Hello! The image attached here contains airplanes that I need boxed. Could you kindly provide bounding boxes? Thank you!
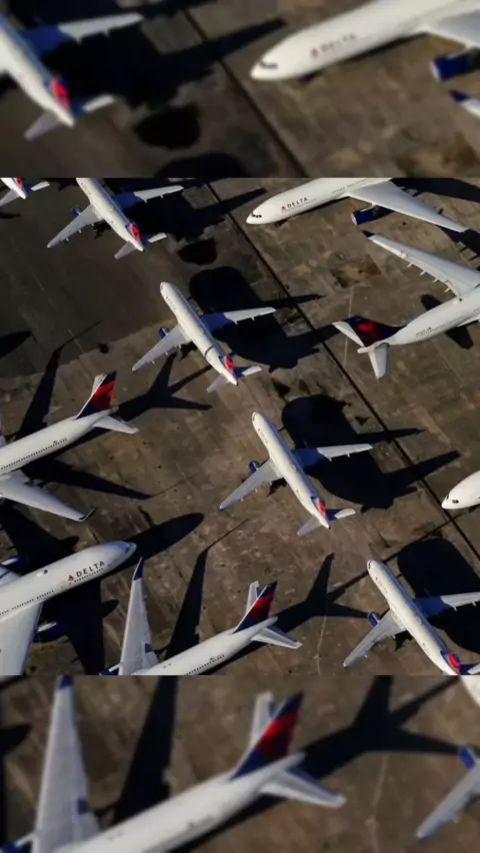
[1,561,304,761]
[221,412,372,535]
[132,280,278,393]
[0,125,71,204]
[330,233,480,376]
[0,542,135,716]
[248,73,480,234]
[250,0,480,85]
[66,696,343,853]
[0,2,140,137]
[441,471,480,511]
[46,164,186,259]
[345,561,480,691]
[0,350,138,523]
